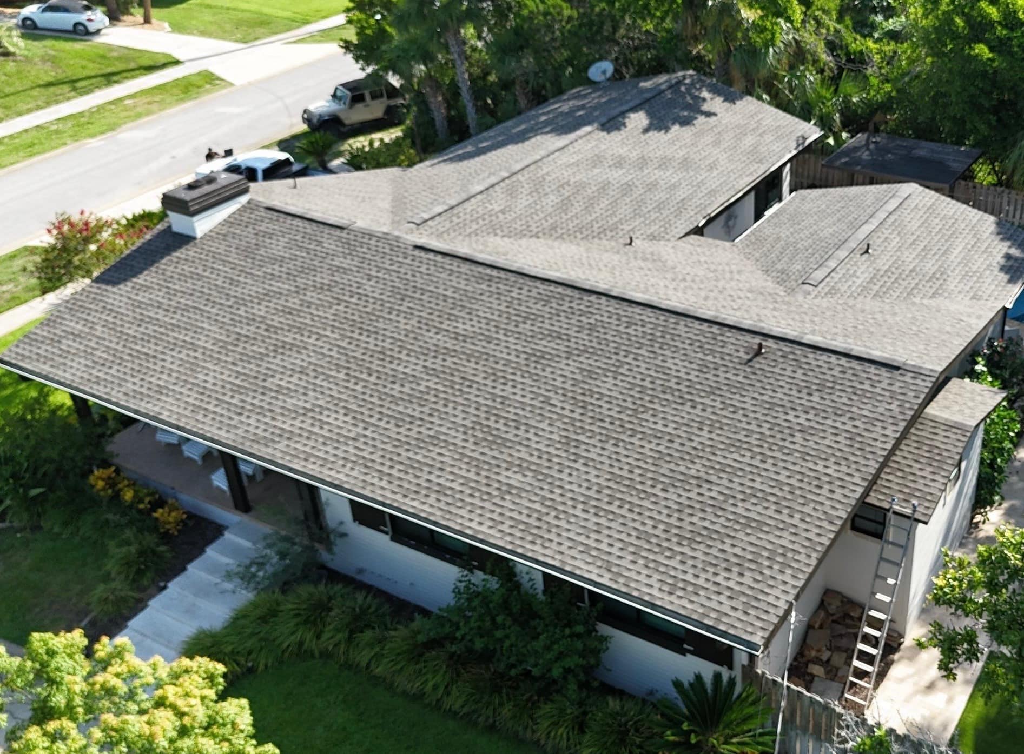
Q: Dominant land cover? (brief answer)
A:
buildings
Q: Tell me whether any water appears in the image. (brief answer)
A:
No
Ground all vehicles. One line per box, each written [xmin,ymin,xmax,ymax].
[21,0,114,34]
[302,67,413,133]
[158,144,361,200]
